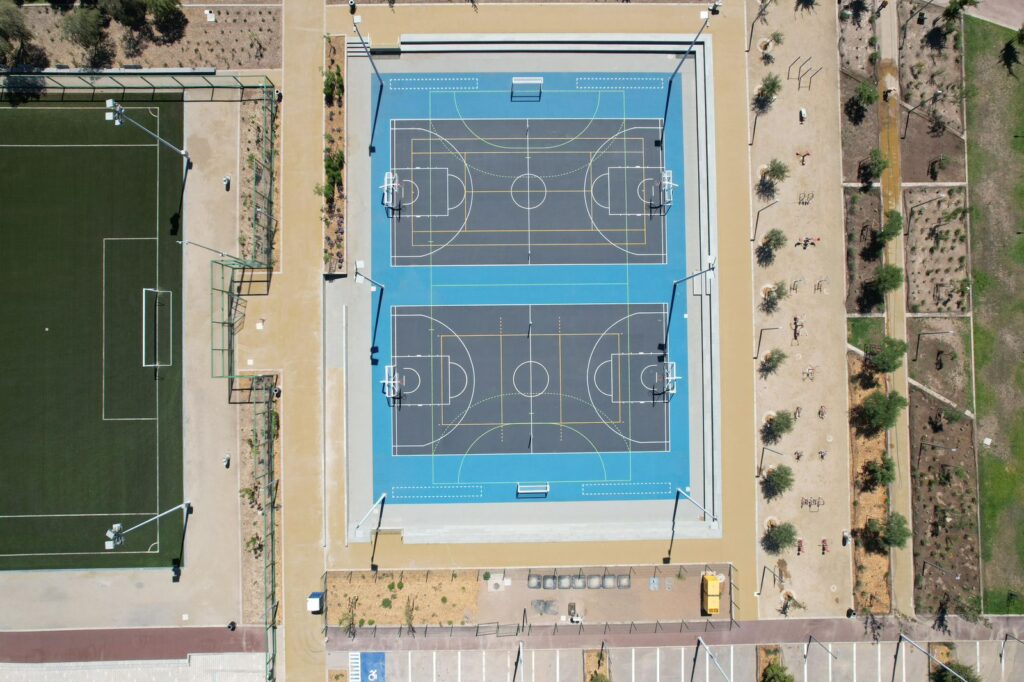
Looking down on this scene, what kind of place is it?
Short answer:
sports ground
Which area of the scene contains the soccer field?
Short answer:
left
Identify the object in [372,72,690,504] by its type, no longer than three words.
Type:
sports court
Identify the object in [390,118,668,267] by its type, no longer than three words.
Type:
basketball court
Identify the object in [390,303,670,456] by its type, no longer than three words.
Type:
basketball court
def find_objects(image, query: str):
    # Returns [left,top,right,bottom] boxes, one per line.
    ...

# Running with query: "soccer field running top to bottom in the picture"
[0,92,183,569]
